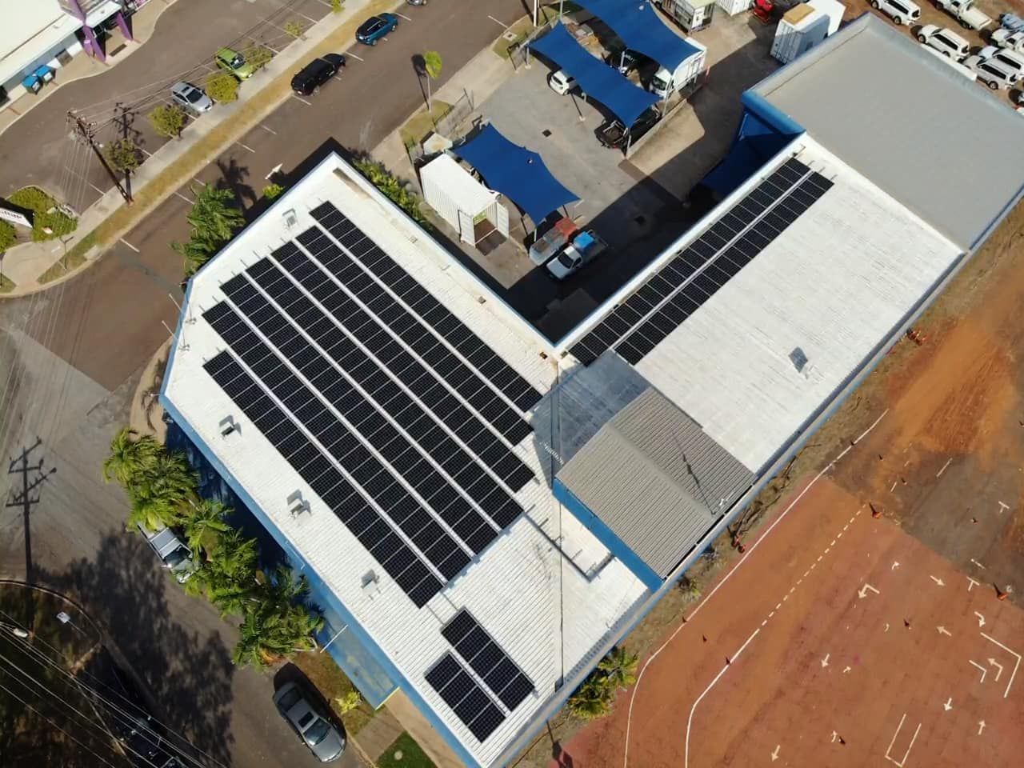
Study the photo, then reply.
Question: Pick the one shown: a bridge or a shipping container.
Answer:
shipping container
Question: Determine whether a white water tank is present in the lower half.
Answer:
No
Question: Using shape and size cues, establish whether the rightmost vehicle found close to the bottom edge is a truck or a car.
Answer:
car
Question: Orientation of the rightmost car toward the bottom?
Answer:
at an angle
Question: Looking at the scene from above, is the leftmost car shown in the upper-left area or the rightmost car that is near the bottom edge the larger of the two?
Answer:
the rightmost car that is near the bottom edge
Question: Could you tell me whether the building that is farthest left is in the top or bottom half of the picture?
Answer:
top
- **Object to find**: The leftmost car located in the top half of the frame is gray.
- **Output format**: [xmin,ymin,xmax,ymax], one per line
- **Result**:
[166,77,216,117]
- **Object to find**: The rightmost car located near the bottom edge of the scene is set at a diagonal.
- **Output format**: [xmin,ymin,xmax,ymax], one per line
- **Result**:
[273,679,344,760]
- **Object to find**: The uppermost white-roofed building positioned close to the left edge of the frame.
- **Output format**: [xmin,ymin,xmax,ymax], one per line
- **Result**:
[0,0,140,104]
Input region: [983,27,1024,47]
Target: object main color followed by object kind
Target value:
white vehicle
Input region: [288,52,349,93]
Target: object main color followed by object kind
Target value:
black car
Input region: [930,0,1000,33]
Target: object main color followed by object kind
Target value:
white truck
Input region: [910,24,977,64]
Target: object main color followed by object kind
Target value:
white car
